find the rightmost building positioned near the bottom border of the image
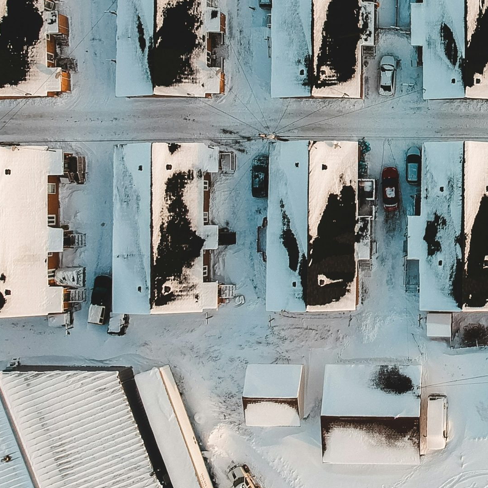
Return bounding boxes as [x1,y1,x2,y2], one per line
[320,362,423,465]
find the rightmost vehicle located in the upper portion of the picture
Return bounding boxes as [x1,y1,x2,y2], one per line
[404,146,422,185]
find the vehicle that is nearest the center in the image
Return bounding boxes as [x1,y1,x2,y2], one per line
[248,155,267,198]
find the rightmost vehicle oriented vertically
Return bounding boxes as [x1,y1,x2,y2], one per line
[424,394,448,449]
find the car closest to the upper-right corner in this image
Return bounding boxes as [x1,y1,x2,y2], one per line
[377,55,397,97]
